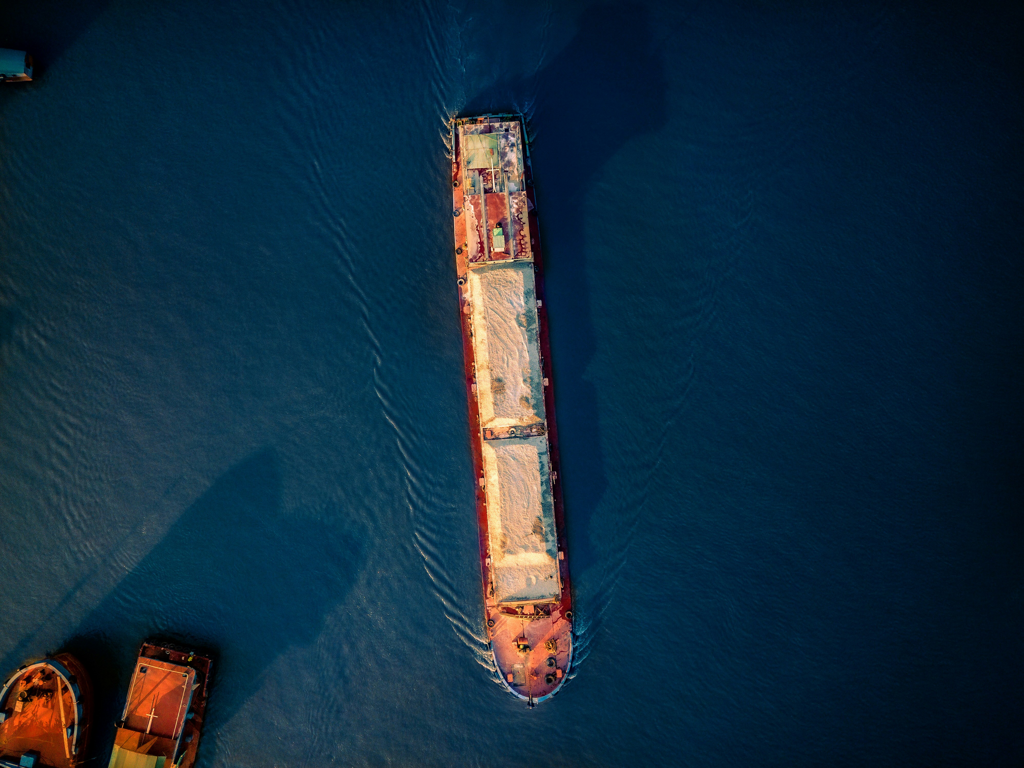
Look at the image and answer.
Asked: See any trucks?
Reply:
No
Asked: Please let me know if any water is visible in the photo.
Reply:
Yes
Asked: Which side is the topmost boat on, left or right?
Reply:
left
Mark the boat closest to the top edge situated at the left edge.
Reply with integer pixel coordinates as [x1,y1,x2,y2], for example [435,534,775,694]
[0,51,35,81]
